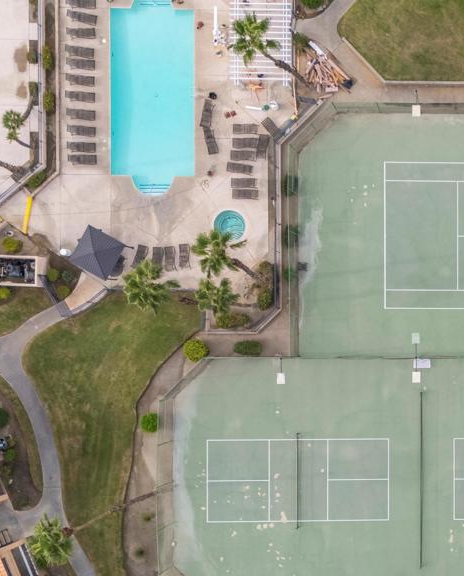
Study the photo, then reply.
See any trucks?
No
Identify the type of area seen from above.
sports ground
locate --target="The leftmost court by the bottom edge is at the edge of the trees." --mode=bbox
[173,359,420,576]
